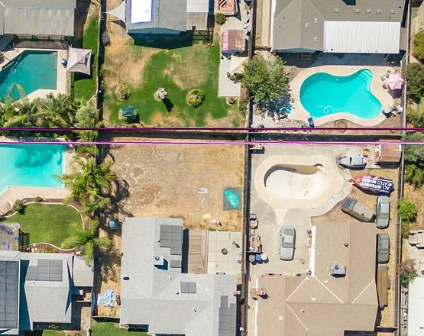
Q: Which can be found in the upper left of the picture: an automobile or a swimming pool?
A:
swimming pool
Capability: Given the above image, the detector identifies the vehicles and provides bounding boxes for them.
[336,151,366,168]
[374,196,392,230]
[377,234,392,264]
[279,225,296,261]
[338,196,377,222]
